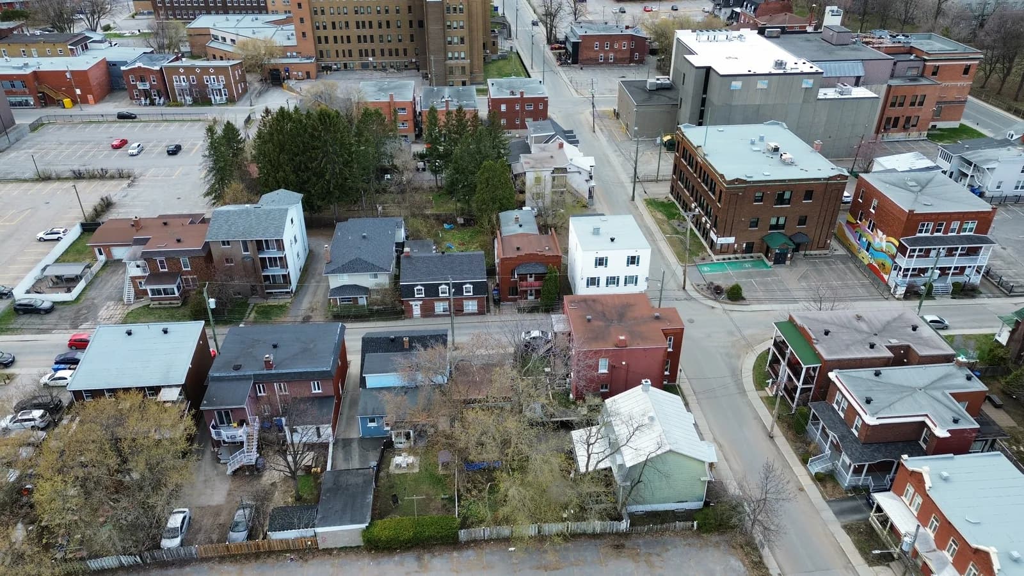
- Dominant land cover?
buildings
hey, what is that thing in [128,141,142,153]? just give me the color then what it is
white vehicle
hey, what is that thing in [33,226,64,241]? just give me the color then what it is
white car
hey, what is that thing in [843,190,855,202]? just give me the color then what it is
white vehicle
